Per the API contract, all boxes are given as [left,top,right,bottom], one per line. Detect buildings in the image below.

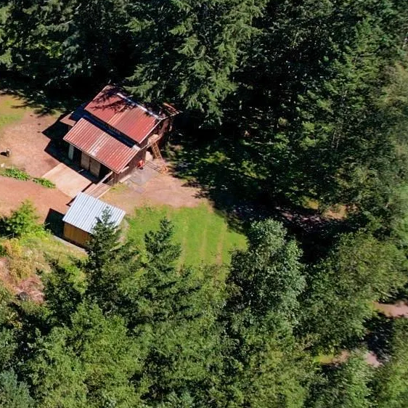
[62,192,125,252]
[62,82,178,190]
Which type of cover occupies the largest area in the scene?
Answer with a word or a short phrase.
trees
